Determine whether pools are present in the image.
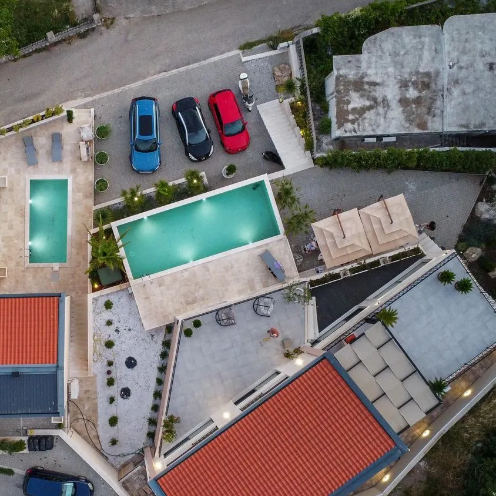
Yes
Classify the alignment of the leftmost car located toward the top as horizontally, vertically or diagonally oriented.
vertically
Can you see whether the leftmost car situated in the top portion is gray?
No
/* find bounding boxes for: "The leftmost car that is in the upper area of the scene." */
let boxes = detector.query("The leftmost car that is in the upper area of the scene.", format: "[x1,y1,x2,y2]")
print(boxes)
[127,96,163,174]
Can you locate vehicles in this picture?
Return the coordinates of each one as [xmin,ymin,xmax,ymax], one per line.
[170,96,214,165]
[206,87,250,158]
[22,468,95,496]
[127,96,163,174]
[240,72,257,112]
